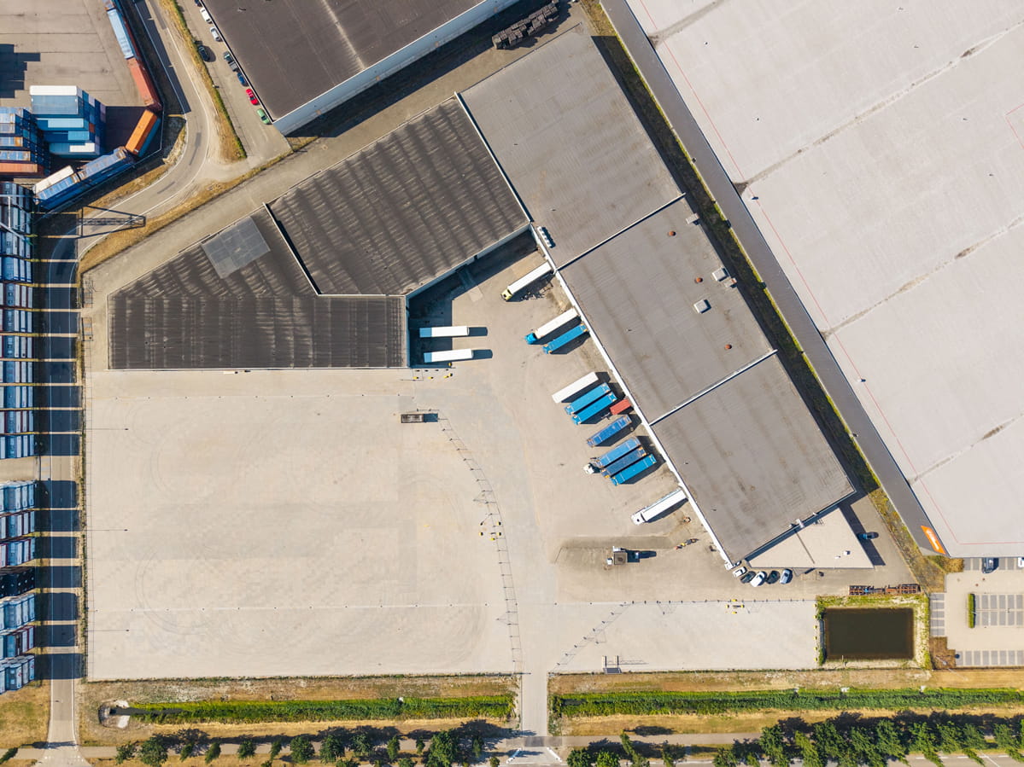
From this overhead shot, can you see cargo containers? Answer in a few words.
Yes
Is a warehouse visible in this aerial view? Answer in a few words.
Yes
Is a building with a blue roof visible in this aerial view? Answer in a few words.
No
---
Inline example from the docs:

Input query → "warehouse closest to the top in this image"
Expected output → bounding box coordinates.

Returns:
[204,0,533,136]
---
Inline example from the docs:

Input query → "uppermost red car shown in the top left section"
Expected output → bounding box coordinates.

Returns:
[246,88,259,106]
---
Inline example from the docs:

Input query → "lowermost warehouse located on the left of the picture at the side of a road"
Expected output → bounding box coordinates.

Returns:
[108,203,411,373]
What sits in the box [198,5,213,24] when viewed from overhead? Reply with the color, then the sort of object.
white car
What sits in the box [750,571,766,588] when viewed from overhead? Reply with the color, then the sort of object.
white car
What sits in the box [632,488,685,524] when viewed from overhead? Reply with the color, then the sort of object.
white truck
